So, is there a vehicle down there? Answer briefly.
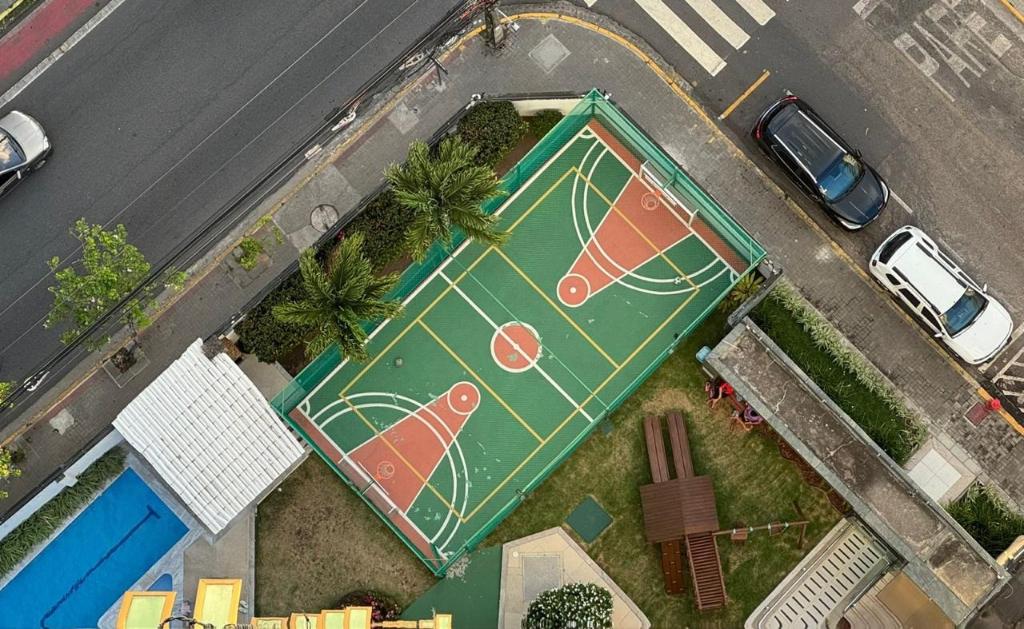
Yes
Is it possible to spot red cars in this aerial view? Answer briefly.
No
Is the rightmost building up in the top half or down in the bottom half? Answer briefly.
bottom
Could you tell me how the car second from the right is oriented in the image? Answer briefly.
diagonally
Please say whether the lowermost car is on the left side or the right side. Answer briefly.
right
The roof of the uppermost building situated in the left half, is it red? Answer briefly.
No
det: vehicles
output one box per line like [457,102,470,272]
[869,220,1017,362]
[0,110,50,197]
[753,93,893,235]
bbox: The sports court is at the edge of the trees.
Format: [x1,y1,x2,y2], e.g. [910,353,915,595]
[290,118,747,566]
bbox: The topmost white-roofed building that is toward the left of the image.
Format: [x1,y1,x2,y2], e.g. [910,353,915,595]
[113,336,315,537]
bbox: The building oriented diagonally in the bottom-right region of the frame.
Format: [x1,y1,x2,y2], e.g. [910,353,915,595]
[706,320,1015,629]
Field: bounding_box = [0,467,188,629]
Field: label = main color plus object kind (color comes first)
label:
blue swimming pool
